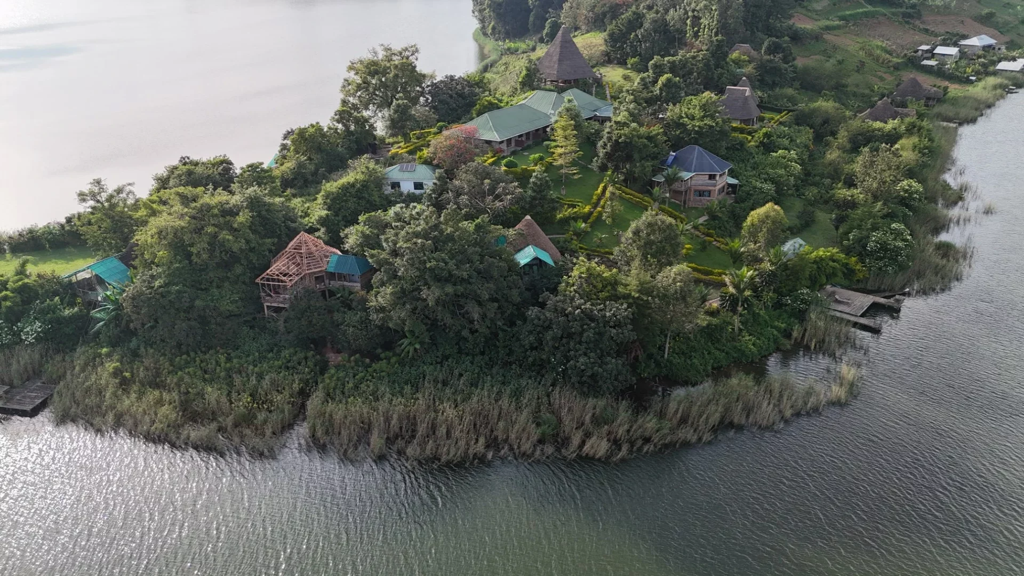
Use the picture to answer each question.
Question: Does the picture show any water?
Yes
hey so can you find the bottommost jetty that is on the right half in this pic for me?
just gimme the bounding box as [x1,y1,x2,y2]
[823,288,906,334]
